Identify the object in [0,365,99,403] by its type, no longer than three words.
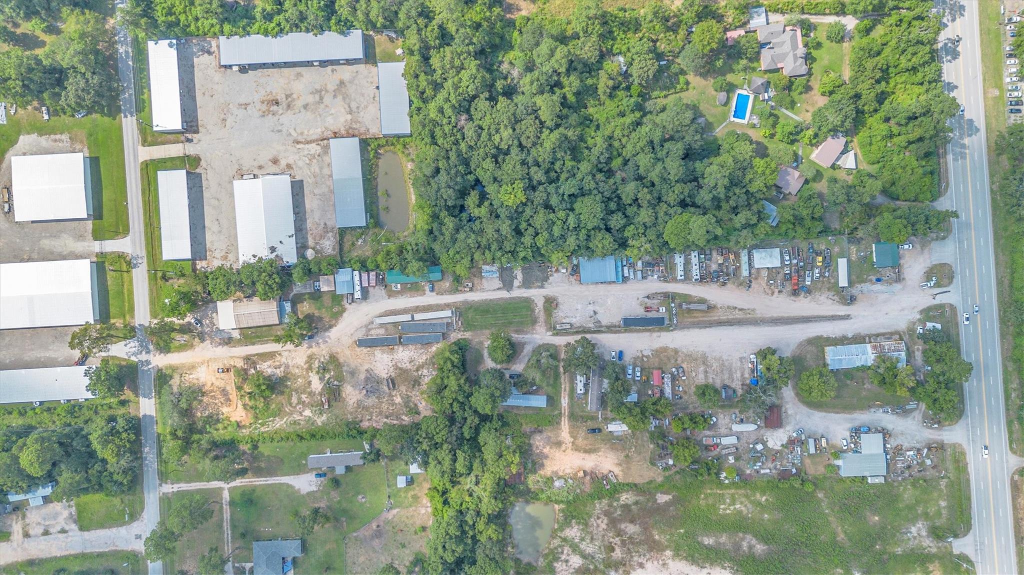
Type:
building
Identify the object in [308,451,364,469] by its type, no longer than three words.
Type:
house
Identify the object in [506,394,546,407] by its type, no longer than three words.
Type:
barn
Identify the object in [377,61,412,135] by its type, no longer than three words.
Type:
building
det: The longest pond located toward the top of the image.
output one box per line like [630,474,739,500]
[375,150,410,233]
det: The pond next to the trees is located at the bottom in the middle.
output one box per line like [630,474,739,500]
[509,501,556,563]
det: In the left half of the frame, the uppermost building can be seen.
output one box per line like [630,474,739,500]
[218,29,365,68]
